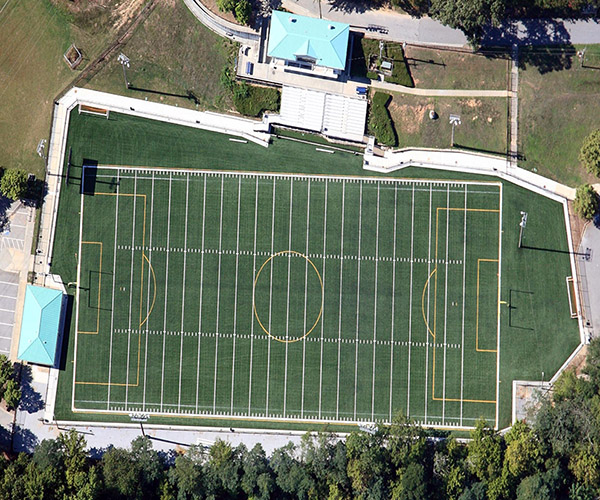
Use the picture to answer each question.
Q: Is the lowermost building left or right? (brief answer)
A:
left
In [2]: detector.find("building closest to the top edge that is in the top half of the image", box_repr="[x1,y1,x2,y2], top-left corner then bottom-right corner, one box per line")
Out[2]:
[267,10,350,81]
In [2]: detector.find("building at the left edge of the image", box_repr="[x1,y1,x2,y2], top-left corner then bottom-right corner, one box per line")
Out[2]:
[18,285,63,368]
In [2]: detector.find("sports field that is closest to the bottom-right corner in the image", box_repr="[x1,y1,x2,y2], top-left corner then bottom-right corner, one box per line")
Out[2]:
[50,105,582,436]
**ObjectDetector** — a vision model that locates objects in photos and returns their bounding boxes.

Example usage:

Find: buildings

[267,10,350,81]
[18,285,63,368]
